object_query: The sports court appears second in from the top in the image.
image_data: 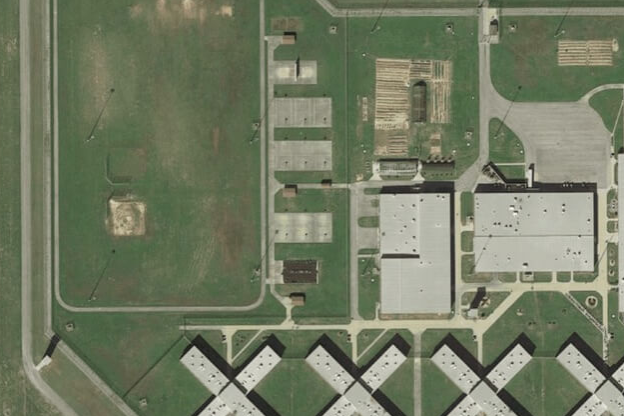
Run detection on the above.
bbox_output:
[273,97,332,127]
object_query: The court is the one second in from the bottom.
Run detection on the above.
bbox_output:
[273,140,332,170]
